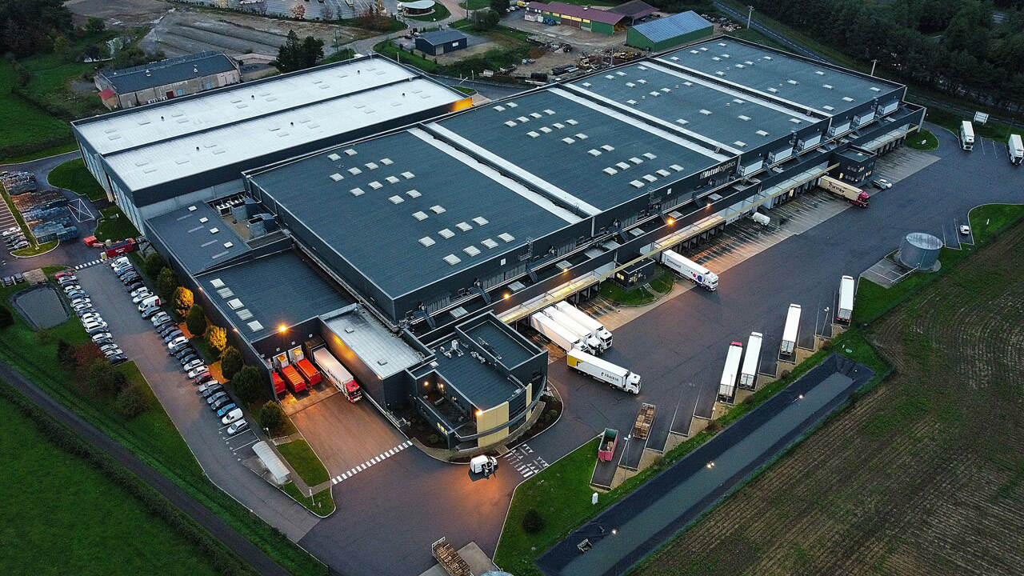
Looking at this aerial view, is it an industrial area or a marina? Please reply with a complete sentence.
The picture captures an industrial area.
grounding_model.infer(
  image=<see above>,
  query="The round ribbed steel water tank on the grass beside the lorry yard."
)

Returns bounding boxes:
[895,231,946,273]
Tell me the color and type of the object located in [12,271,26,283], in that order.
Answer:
gray vehicle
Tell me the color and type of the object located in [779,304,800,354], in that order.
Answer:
white truck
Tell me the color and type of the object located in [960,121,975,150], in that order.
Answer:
white vehicle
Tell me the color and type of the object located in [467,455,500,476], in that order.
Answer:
white vehicle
